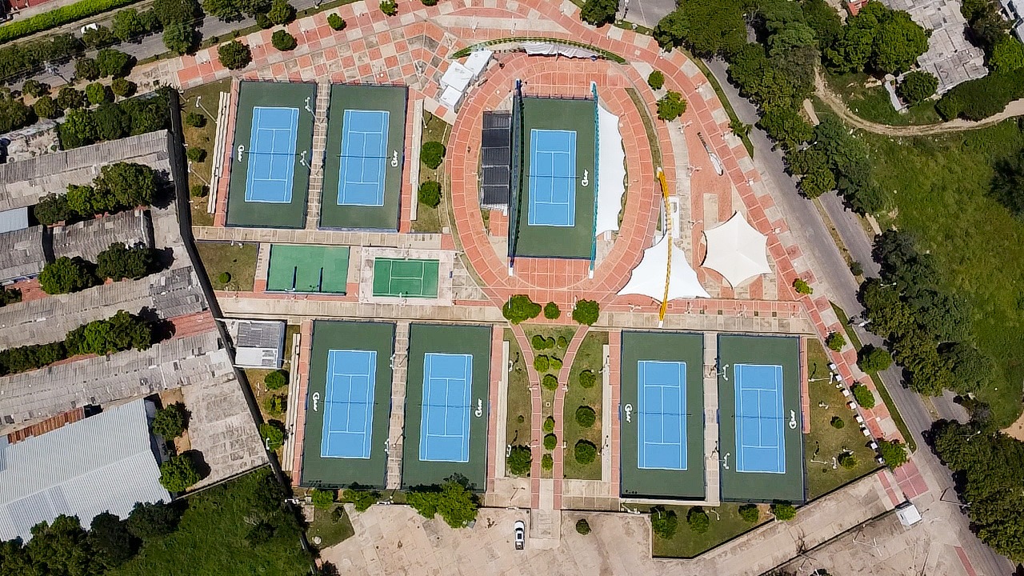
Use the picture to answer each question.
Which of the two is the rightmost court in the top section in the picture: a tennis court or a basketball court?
tennis court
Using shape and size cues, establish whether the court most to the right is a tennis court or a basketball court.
tennis court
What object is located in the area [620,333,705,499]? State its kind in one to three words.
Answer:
tennis court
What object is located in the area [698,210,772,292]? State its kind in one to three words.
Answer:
tent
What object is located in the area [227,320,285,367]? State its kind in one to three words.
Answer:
building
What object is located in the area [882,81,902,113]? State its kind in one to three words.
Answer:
shed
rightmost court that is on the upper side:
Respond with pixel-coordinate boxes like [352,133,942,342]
[518,97,593,258]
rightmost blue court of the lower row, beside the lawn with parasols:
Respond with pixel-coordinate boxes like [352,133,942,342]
[717,336,804,502]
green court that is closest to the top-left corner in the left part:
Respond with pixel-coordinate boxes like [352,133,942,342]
[262,242,350,296]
